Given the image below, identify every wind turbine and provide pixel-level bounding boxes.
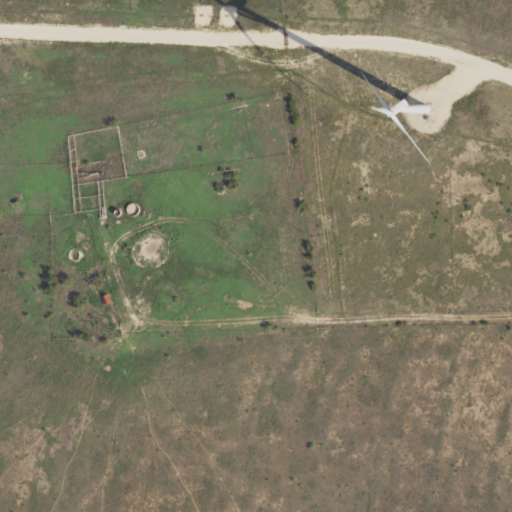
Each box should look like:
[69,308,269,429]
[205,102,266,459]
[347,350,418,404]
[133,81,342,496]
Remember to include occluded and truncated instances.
[360,73,432,165]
